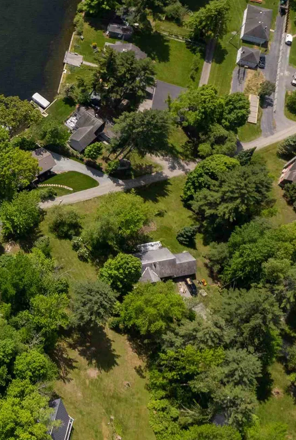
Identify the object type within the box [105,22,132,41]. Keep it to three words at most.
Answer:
building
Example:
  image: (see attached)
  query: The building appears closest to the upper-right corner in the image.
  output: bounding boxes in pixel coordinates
[241,10,274,49]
